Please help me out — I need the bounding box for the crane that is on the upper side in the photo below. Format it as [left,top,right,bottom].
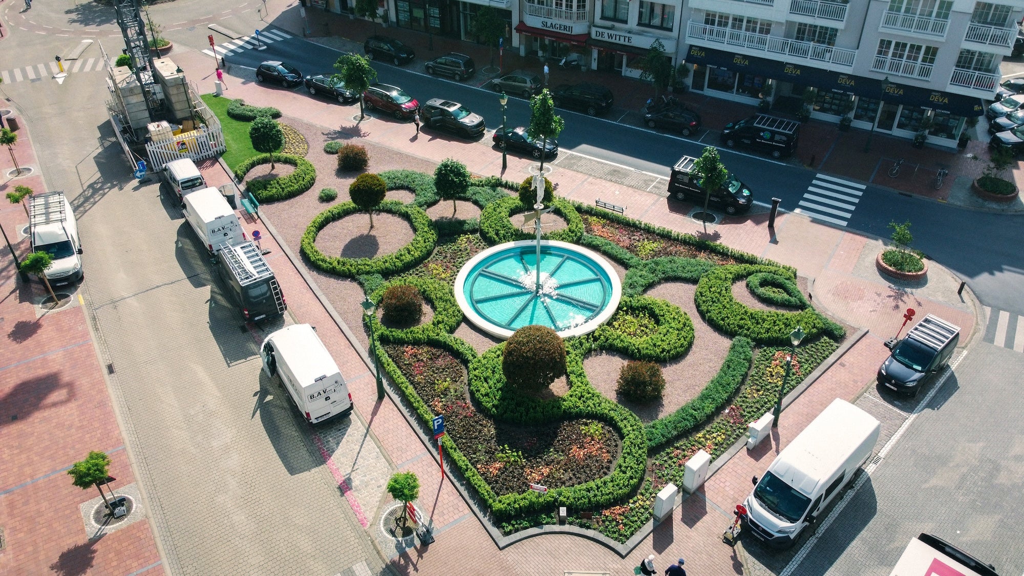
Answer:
[108,0,200,128]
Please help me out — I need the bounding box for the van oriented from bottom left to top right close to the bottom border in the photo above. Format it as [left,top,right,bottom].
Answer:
[742,402,873,554]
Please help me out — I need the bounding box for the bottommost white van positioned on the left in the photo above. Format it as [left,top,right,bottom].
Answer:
[258,328,353,427]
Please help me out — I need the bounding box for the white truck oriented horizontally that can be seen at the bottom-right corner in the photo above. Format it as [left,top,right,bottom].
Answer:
[881,530,993,576]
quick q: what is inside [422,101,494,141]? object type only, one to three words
car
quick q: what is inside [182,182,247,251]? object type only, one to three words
van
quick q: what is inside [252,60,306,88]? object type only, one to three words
car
